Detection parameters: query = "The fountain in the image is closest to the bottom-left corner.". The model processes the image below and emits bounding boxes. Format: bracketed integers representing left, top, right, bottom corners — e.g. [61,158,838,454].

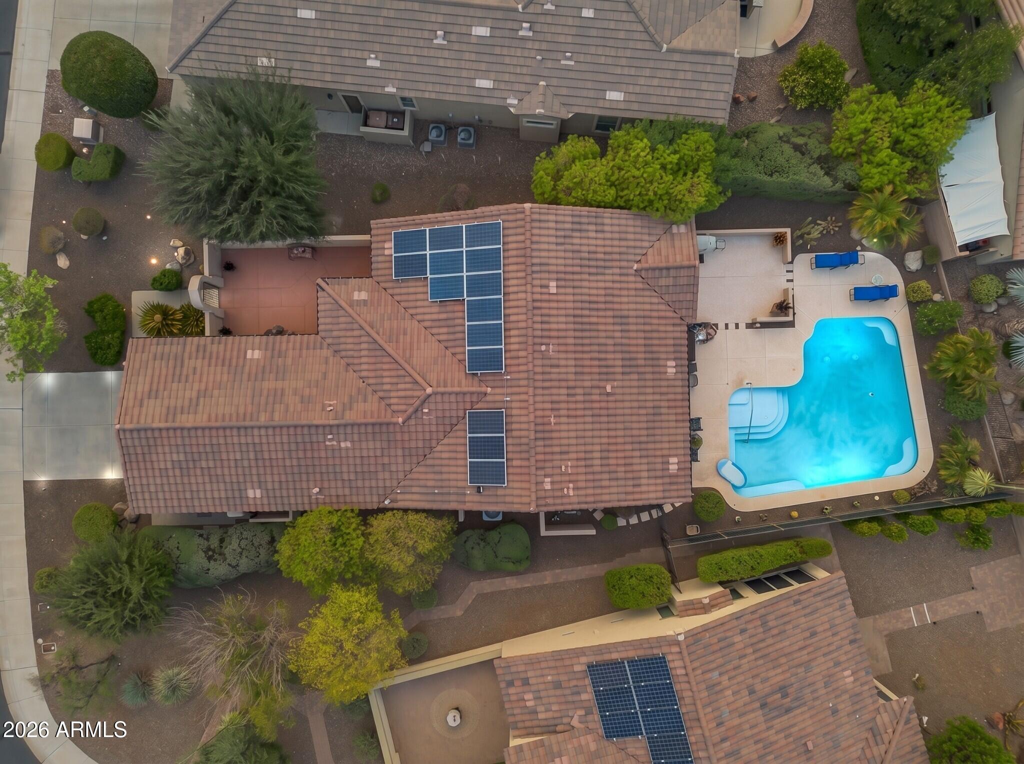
[445,707,462,725]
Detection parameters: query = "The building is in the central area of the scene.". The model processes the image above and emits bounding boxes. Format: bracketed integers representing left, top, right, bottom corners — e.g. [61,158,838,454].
[114,201,701,517]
